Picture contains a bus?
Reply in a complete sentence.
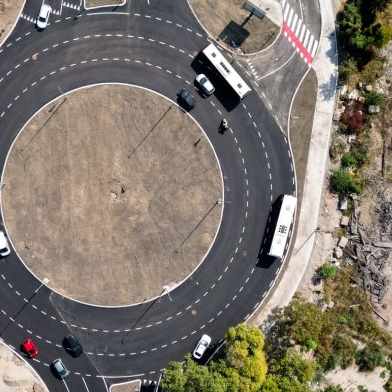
Yes, this view includes a bus.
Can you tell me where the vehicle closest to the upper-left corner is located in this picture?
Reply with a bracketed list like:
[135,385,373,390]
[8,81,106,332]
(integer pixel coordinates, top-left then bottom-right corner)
[37,5,51,29]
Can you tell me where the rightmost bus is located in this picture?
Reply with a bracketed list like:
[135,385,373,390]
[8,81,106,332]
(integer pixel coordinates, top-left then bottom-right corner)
[267,194,297,258]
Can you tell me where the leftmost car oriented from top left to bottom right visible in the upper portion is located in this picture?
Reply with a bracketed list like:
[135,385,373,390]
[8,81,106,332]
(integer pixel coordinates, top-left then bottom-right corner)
[178,89,196,111]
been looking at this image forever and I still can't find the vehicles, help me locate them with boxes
[178,89,196,111]
[0,231,10,257]
[200,42,251,100]
[37,5,51,29]
[267,194,297,258]
[195,73,214,96]
[193,334,211,358]
[53,357,70,378]
[63,334,82,357]
[23,338,38,357]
